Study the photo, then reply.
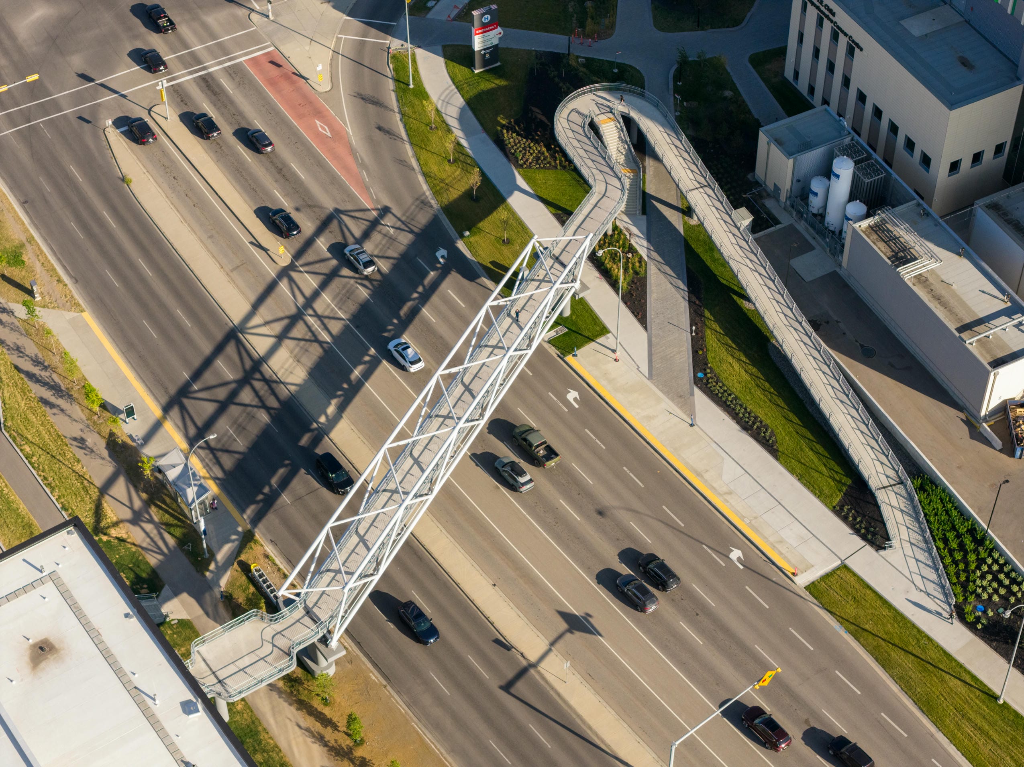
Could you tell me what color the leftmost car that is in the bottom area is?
black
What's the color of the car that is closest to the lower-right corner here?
black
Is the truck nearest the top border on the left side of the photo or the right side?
left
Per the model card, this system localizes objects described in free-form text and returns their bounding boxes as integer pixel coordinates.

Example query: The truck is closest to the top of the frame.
[145,3,179,36]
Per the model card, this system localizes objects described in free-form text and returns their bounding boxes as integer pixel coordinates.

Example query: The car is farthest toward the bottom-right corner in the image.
[825,731,877,767]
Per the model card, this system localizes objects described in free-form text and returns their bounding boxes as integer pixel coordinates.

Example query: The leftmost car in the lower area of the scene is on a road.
[317,447,355,498]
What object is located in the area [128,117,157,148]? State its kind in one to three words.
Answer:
car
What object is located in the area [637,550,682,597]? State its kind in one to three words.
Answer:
car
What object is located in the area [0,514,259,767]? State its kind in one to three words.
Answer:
building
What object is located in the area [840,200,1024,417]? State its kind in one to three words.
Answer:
building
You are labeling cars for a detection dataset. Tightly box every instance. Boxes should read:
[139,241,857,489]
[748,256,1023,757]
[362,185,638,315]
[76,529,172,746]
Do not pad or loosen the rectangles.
[398,596,440,649]
[494,455,535,496]
[825,731,877,767]
[317,447,355,498]
[128,117,157,148]
[268,207,301,242]
[742,704,794,758]
[637,550,682,597]
[193,112,223,142]
[387,338,425,376]
[616,572,660,619]
[247,128,277,158]
[142,48,168,76]
[343,244,379,279]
